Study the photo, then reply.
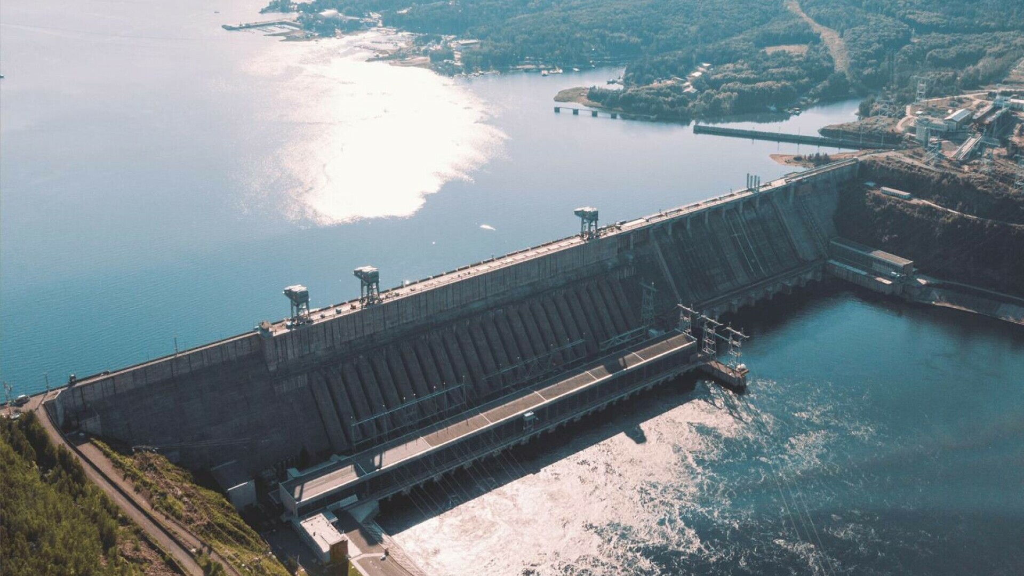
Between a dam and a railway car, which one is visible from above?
dam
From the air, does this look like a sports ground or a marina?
marina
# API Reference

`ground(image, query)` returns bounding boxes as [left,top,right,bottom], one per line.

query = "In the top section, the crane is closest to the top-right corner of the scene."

[574,207,598,241]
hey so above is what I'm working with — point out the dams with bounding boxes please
[34,156,863,475]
